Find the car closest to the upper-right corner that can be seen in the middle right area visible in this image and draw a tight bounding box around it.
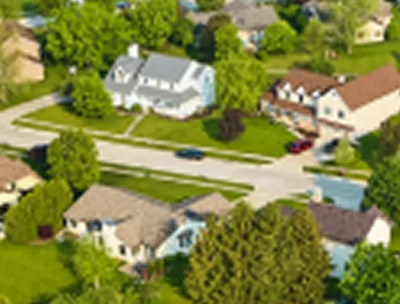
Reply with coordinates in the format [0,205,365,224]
[322,138,343,156]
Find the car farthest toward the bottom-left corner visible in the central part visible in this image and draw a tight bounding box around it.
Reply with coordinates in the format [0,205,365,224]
[174,147,205,162]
